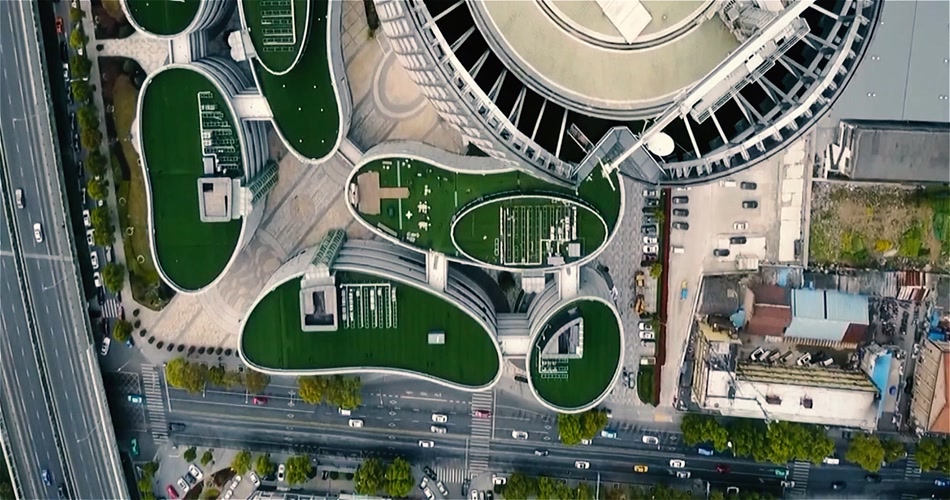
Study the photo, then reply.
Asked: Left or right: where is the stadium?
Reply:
right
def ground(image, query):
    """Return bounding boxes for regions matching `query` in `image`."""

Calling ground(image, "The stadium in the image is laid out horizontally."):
[369,0,886,189]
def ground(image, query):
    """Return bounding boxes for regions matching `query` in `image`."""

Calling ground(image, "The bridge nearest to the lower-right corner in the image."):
[551,263,580,304]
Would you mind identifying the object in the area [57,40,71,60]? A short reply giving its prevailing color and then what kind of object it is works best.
black vehicle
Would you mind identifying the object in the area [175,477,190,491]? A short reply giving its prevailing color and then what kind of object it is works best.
white vehicle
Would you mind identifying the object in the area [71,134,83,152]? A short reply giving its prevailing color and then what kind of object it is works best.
black vehicle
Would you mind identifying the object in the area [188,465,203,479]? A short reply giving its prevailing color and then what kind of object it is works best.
white vehicle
